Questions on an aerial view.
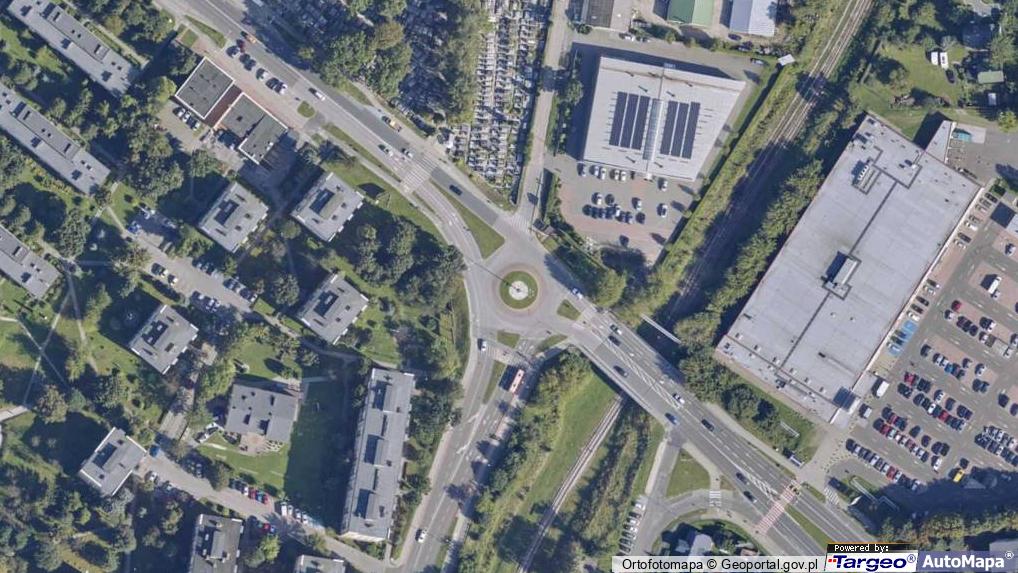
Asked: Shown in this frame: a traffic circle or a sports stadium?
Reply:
traffic circle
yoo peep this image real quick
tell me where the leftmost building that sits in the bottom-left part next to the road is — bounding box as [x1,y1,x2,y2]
[79,426,149,498]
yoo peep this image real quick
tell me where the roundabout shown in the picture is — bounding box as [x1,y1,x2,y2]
[471,243,566,336]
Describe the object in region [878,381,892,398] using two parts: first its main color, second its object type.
white vehicle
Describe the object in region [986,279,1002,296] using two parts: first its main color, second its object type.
white vehicle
